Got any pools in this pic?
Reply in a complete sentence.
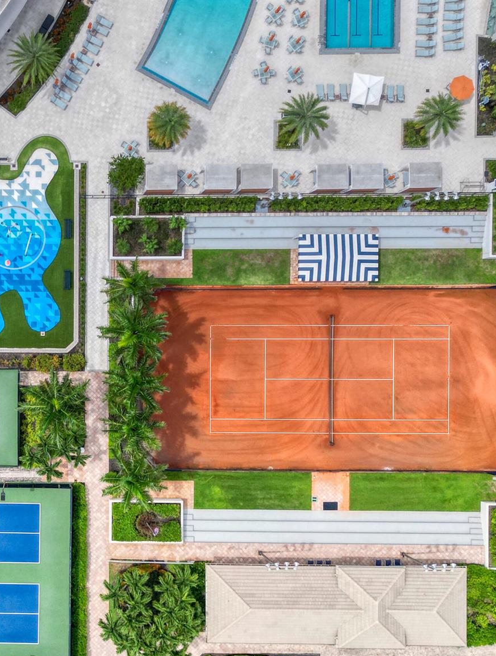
Yes, there's a pool down there.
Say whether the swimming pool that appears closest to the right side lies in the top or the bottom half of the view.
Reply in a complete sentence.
The swimming pool that appears closest to the right side is in the top half of the image.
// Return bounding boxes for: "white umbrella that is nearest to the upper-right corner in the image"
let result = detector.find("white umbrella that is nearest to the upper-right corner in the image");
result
[350,72,384,118]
